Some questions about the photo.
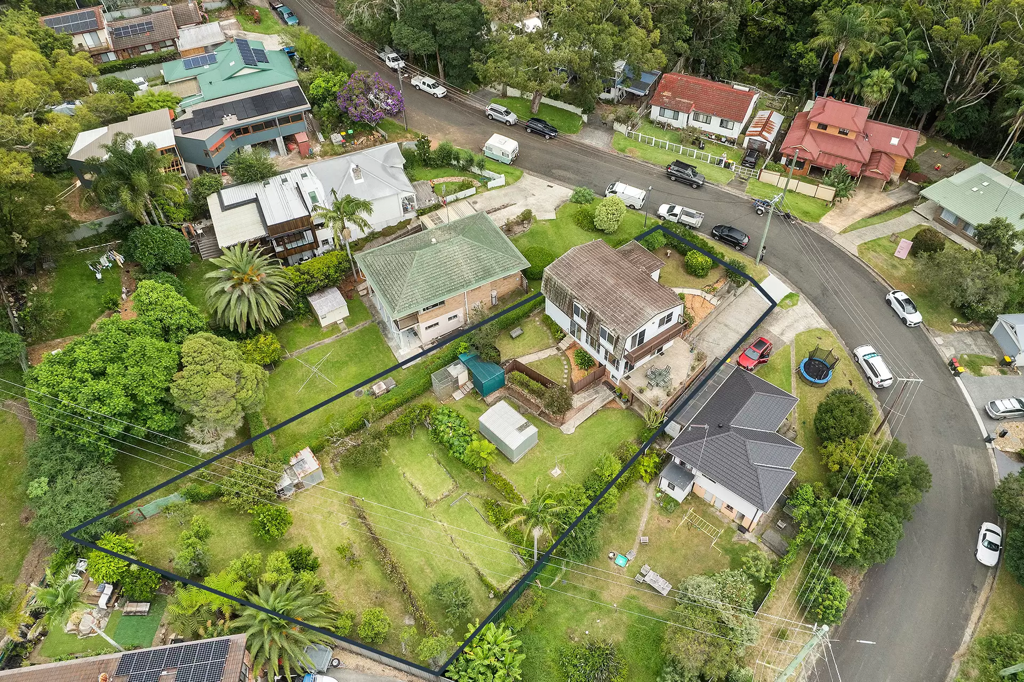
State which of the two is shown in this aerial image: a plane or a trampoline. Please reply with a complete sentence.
The one in the frame is a trampoline.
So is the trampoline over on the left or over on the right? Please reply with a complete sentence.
It is on the right.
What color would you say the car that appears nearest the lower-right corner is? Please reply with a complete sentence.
The car that appears nearest the lower-right corner is white.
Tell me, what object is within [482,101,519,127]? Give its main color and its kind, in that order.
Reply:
gray car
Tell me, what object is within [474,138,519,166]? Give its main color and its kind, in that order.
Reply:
white camper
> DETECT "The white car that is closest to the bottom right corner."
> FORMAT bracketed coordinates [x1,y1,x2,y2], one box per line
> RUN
[971,516,1007,572]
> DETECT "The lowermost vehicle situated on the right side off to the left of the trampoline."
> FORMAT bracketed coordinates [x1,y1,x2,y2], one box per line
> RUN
[738,334,775,375]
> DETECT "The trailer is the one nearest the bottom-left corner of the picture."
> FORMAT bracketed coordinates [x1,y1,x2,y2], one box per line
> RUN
[298,644,352,677]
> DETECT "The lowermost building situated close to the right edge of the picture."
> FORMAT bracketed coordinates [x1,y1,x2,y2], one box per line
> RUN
[990,305,1024,361]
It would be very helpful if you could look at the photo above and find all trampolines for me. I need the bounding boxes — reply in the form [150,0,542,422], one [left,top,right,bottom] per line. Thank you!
[794,348,837,388]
